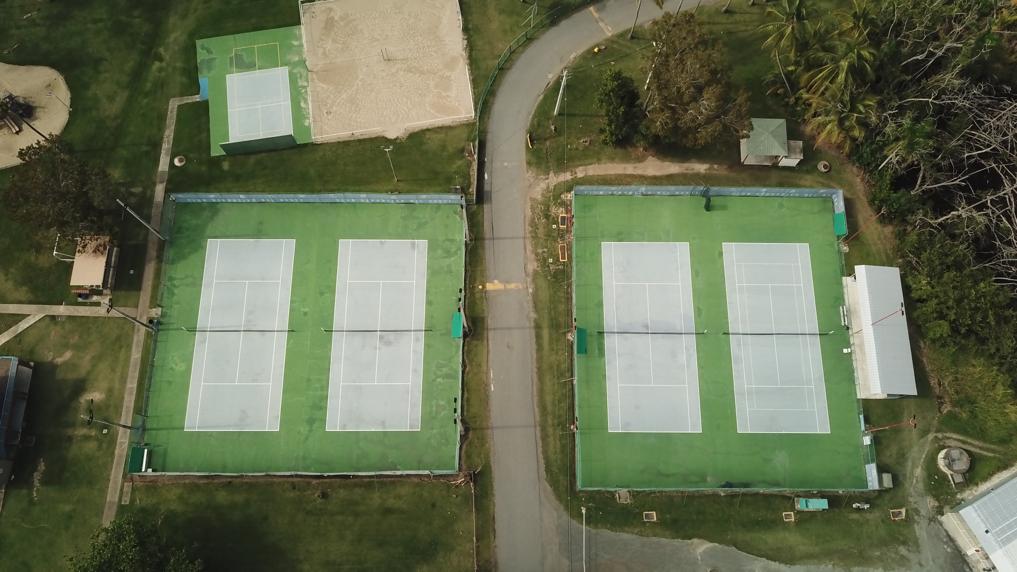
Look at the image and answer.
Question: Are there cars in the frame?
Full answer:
No, there is no car in the image.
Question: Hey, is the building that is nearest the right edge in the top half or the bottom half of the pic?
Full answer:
It is in the bottom half that the building that is nearest the right edge appears.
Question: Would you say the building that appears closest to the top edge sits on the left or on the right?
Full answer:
The building that appears closest to the top edge is on the right side of the image.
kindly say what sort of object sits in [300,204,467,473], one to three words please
tennis court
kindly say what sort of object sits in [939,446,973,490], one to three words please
storage tank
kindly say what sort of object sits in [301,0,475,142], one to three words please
sports court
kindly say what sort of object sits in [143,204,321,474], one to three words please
tennis court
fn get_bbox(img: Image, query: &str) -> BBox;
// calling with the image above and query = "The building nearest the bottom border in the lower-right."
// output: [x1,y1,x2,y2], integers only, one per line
[922,464,1017,572]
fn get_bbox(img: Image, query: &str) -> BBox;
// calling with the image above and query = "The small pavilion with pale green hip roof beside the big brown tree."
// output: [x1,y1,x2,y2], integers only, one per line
[740,118,804,167]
